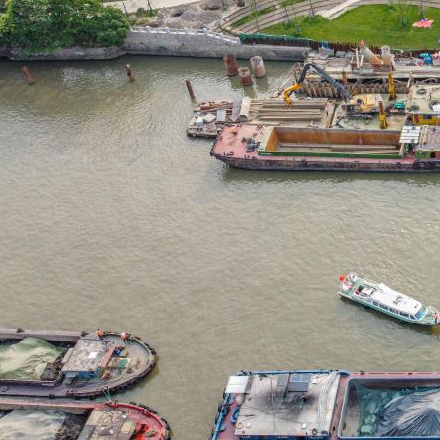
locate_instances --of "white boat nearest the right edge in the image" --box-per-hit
[337,272,440,326]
